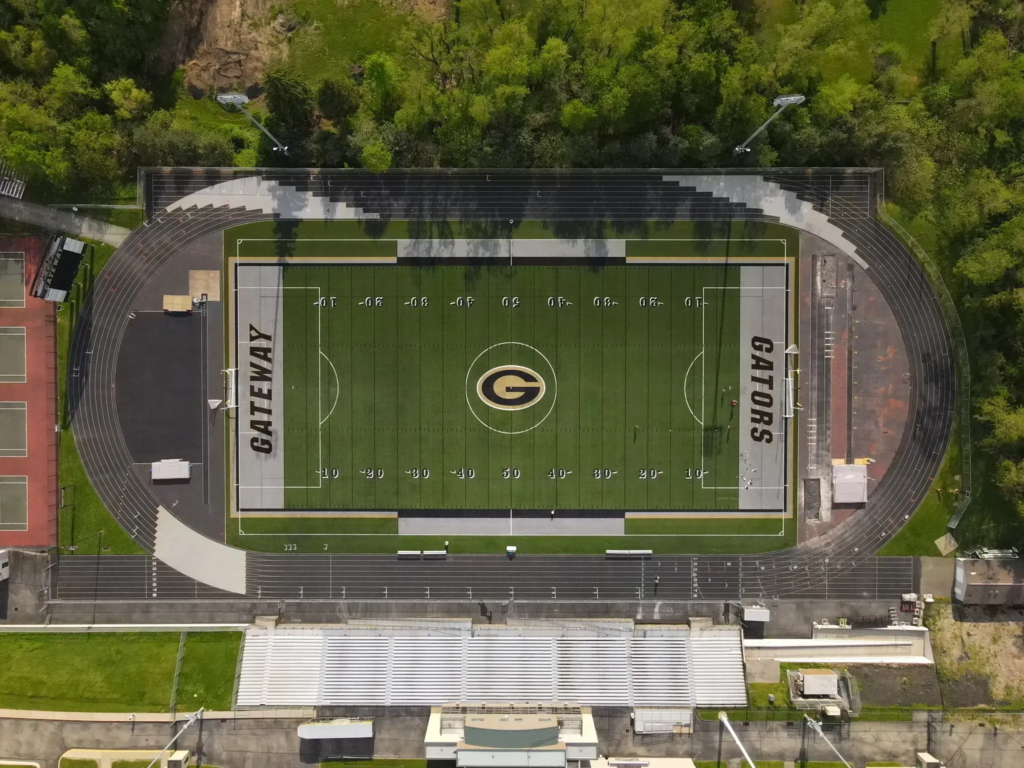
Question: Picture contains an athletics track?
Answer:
Yes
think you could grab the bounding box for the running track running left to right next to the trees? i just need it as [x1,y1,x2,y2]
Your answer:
[51,170,954,600]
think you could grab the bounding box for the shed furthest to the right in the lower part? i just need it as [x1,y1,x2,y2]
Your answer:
[955,558,1024,607]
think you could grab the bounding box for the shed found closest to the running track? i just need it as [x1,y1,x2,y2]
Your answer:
[742,605,771,623]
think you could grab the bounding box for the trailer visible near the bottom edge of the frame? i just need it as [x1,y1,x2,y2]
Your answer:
[296,717,374,739]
